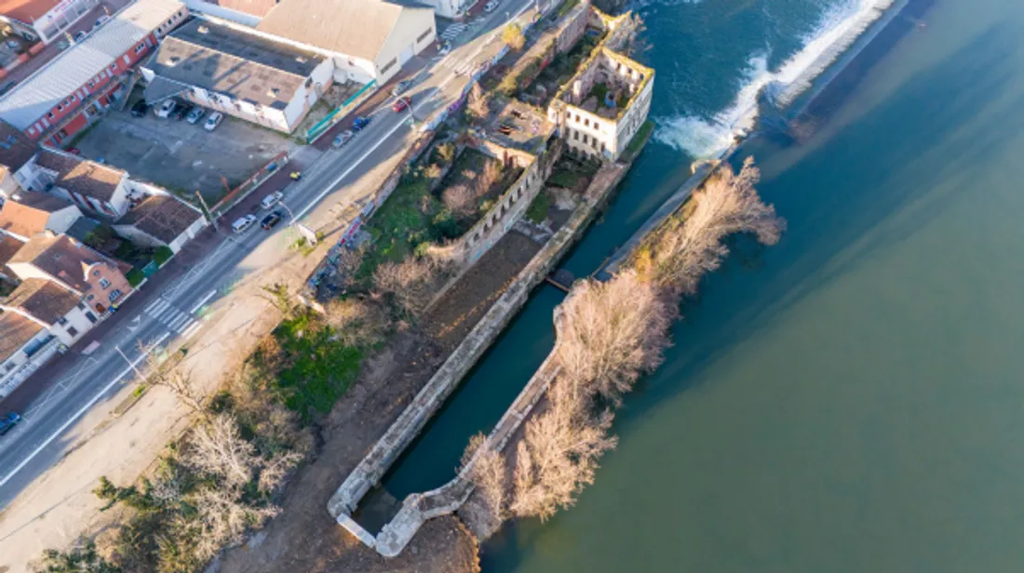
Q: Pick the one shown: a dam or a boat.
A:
dam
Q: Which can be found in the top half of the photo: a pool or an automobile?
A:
automobile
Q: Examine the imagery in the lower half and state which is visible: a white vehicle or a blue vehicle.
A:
blue vehicle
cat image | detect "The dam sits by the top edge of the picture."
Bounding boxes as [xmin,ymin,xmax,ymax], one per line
[715,0,908,151]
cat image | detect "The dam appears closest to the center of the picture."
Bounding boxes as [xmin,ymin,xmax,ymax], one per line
[593,159,723,288]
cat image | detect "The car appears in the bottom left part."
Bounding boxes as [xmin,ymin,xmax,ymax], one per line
[0,410,22,437]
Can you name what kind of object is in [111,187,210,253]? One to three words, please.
house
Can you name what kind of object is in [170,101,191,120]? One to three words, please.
car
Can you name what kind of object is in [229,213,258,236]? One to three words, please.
vehicle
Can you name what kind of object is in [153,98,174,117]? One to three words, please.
car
